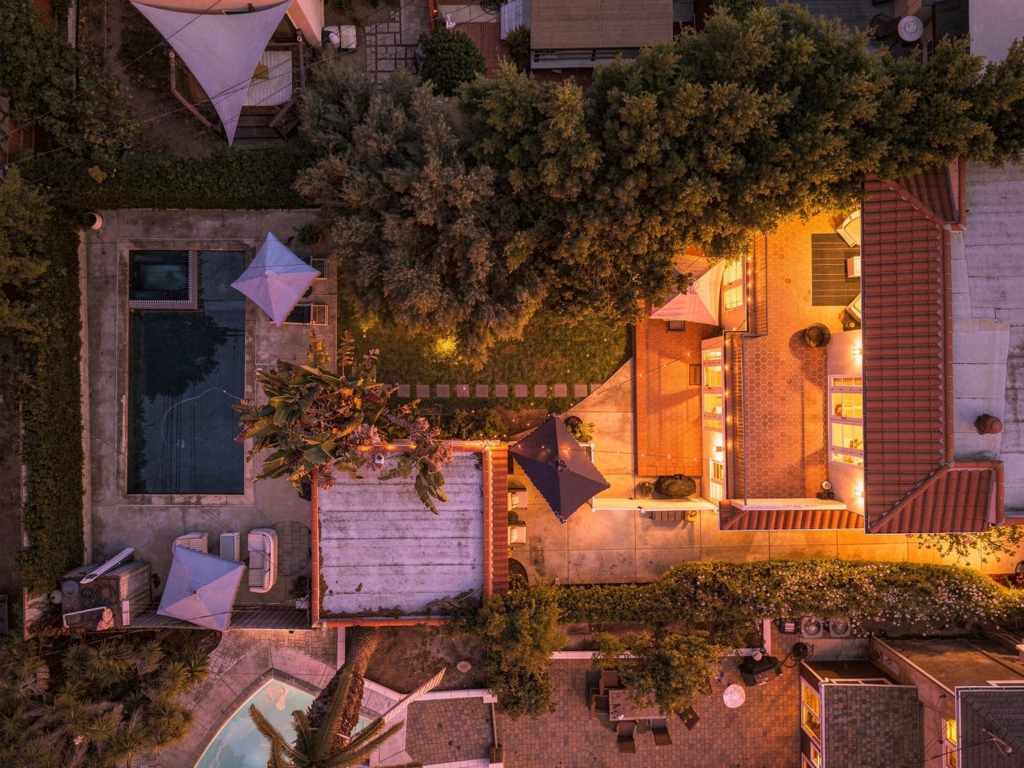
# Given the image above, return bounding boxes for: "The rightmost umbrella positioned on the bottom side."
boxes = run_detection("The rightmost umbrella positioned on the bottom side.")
[509,413,610,522]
